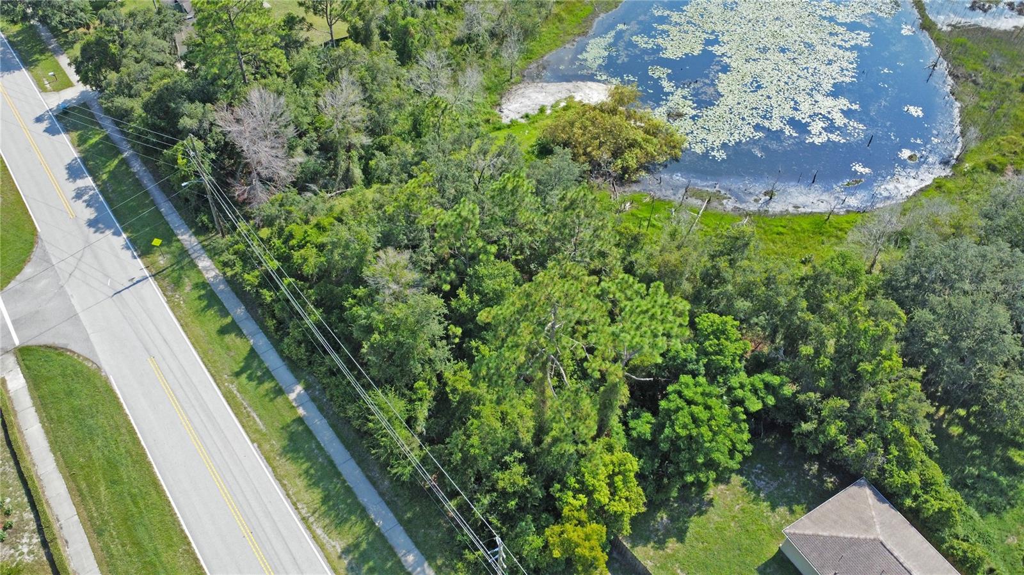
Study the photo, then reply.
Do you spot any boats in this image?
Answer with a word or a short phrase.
No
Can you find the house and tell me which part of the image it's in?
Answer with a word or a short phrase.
bottom right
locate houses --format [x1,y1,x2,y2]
[781,477,970,575]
